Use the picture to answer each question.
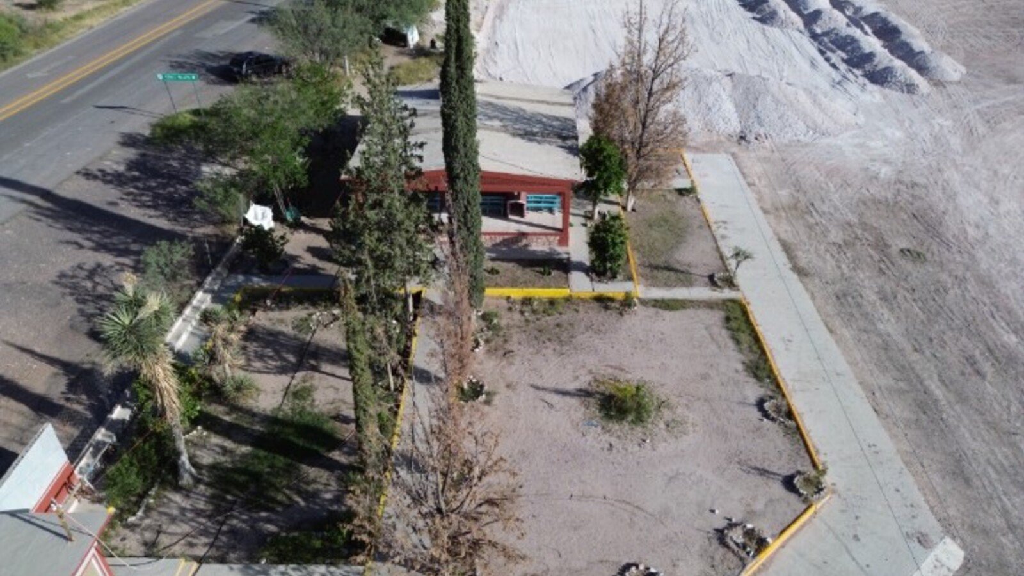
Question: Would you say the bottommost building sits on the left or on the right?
left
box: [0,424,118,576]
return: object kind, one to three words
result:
building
